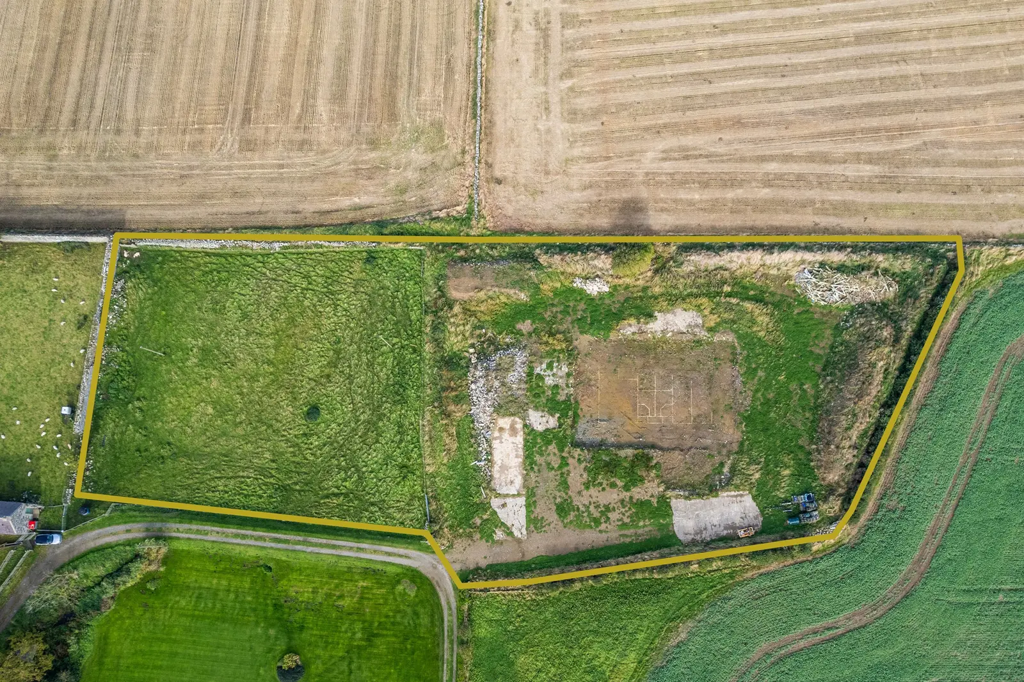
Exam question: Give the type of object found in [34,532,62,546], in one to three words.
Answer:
car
